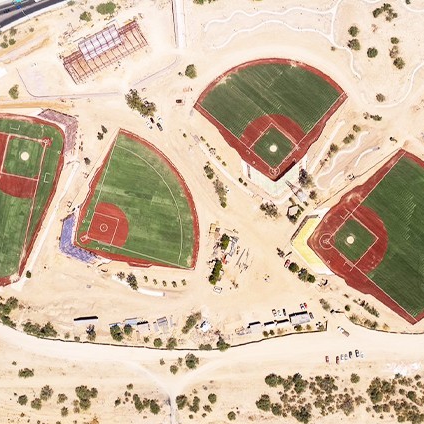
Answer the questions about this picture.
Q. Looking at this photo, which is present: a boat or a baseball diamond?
baseball diamond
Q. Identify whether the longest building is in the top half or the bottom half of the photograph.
top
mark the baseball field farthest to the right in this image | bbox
[308,149,424,324]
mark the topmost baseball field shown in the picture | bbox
[194,58,348,180]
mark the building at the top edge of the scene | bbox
[61,18,149,84]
